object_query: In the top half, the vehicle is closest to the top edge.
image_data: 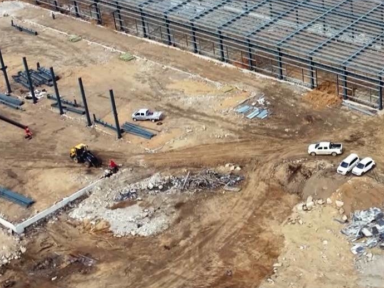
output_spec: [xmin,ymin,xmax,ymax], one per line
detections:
[130,107,164,122]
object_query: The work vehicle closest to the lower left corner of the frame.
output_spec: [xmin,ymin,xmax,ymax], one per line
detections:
[69,143,110,172]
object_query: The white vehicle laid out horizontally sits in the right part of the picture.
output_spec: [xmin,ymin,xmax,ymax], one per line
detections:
[307,140,342,155]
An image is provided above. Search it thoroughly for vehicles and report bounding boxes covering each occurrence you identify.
[69,143,110,172]
[130,107,164,122]
[339,153,363,175]
[353,155,377,176]
[307,140,342,155]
